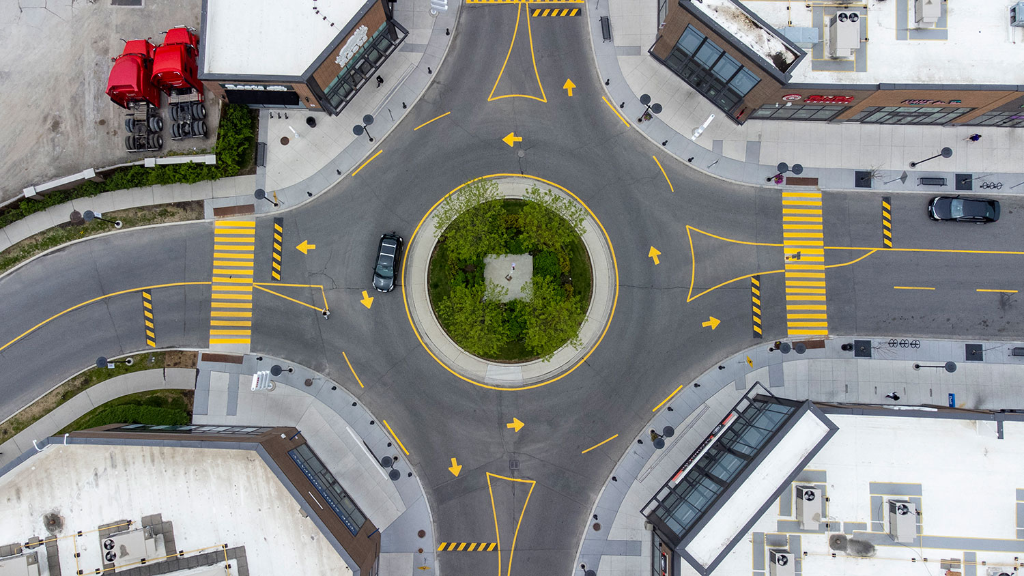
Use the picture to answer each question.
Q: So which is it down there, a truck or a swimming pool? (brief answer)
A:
truck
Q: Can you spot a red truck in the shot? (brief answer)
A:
Yes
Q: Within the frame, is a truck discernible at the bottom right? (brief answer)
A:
No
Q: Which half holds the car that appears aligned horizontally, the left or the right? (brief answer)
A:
right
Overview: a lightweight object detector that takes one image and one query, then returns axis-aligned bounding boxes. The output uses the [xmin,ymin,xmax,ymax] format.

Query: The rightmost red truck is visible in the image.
[154,30,205,138]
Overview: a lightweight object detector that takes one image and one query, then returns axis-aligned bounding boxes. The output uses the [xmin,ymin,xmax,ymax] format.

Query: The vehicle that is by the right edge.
[930,193,1002,224]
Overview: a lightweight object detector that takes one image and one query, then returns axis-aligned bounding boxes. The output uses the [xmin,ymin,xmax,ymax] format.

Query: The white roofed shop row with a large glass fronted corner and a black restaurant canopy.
[637,376,1024,576]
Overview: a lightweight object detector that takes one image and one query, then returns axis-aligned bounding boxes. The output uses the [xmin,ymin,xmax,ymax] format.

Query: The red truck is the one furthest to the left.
[107,42,162,151]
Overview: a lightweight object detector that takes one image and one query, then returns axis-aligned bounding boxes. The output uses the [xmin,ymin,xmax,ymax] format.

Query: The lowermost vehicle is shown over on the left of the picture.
[369,230,405,294]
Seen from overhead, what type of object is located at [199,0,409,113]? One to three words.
building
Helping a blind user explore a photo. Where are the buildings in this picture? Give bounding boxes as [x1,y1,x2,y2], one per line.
[0,424,381,576]
[648,0,1024,127]
[199,0,409,113]
[637,376,1024,576]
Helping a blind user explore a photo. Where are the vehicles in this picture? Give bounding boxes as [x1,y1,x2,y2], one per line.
[154,30,205,138]
[107,42,162,151]
[930,193,1002,224]
[369,230,405,294]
